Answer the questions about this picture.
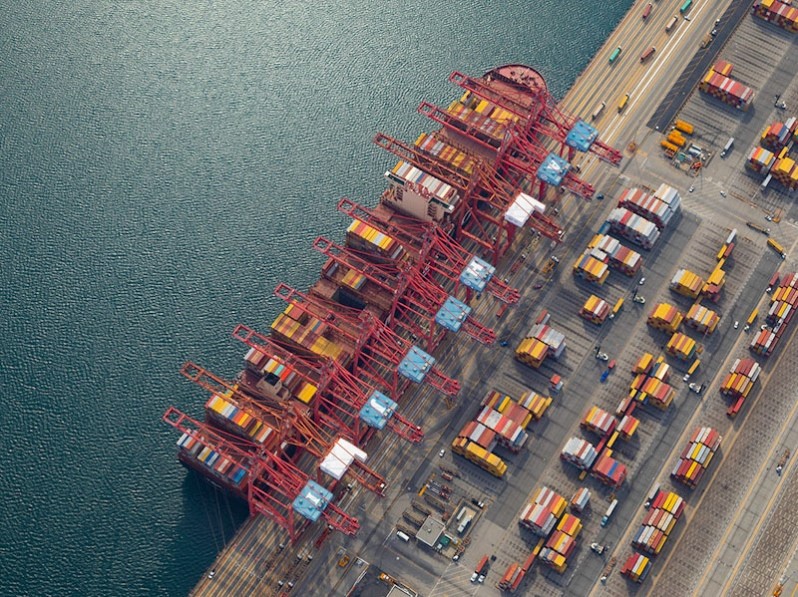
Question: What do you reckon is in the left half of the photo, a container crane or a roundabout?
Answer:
container crane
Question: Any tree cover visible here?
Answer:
No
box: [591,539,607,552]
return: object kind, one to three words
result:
vehicle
